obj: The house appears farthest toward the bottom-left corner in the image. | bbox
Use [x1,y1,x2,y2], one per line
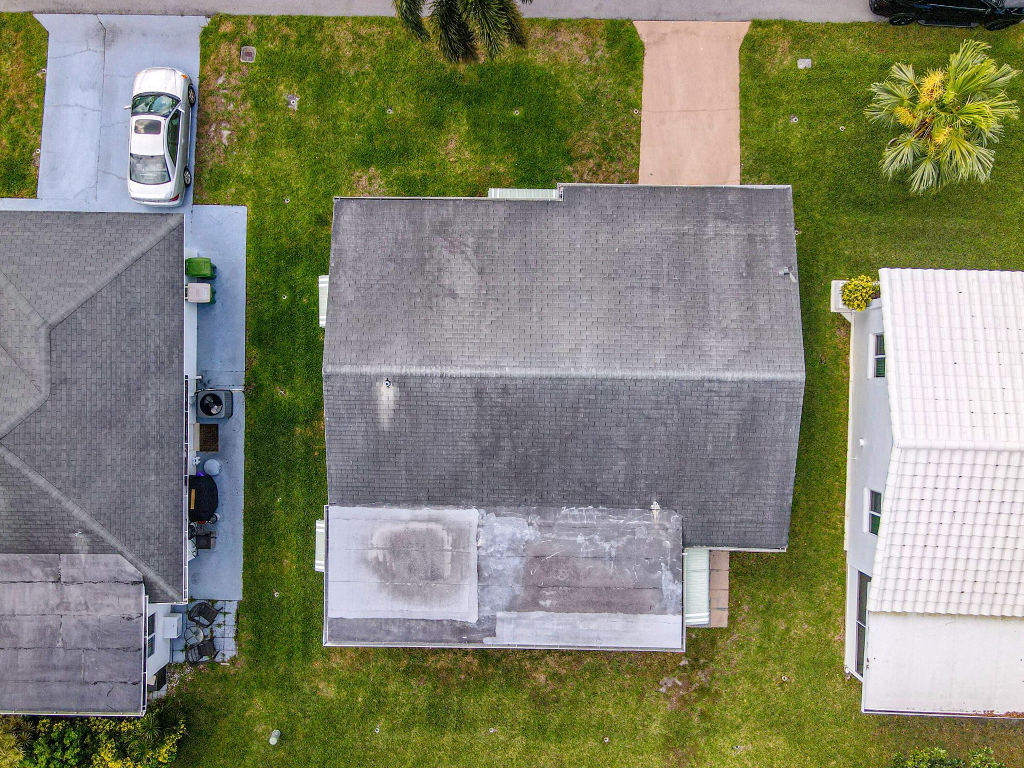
[0,211,203,716]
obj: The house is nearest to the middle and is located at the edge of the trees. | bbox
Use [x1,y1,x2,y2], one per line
[320,178,806,654]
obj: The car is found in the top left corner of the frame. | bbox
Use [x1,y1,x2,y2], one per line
[121,65,195,207]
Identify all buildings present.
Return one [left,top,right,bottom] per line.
[0,211,203,716]
[844,267,1024,718]
[320,178,806,654]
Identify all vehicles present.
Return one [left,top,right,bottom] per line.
[121,65,195,207]
[877,0,1024,30]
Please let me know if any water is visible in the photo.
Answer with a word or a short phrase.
No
